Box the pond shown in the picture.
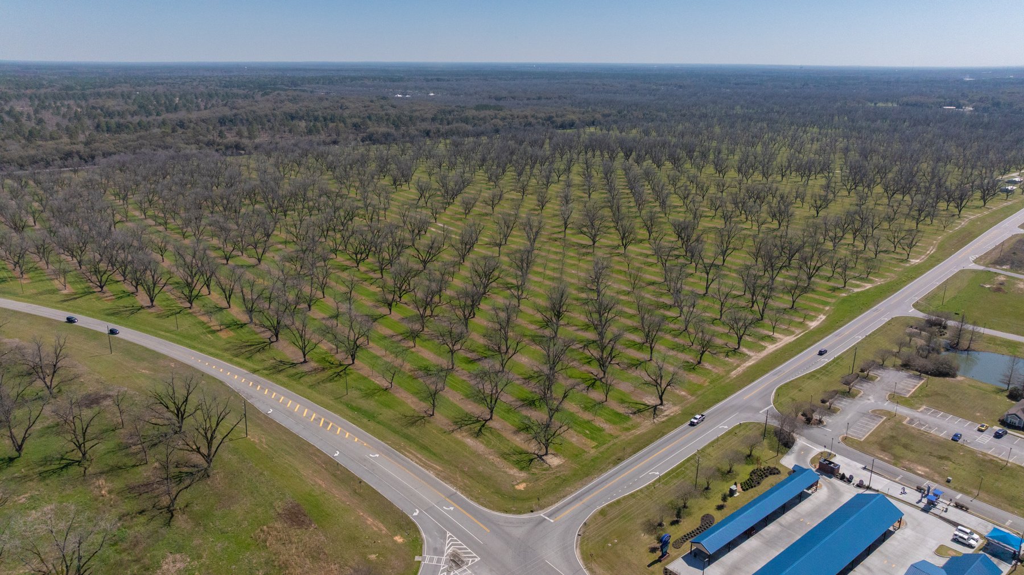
[942,341,1024,387]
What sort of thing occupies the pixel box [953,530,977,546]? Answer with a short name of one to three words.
car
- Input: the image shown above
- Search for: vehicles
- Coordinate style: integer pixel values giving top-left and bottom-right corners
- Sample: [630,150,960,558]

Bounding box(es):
[818,347,828,354]
[109,328,119,333]
[65,316,76,322]
[690,413,705,424]
[953,530,977,546]
[956,524,980,540]
[952,432,963,440]
[995,428,1006,437]
[978,423,988,431]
